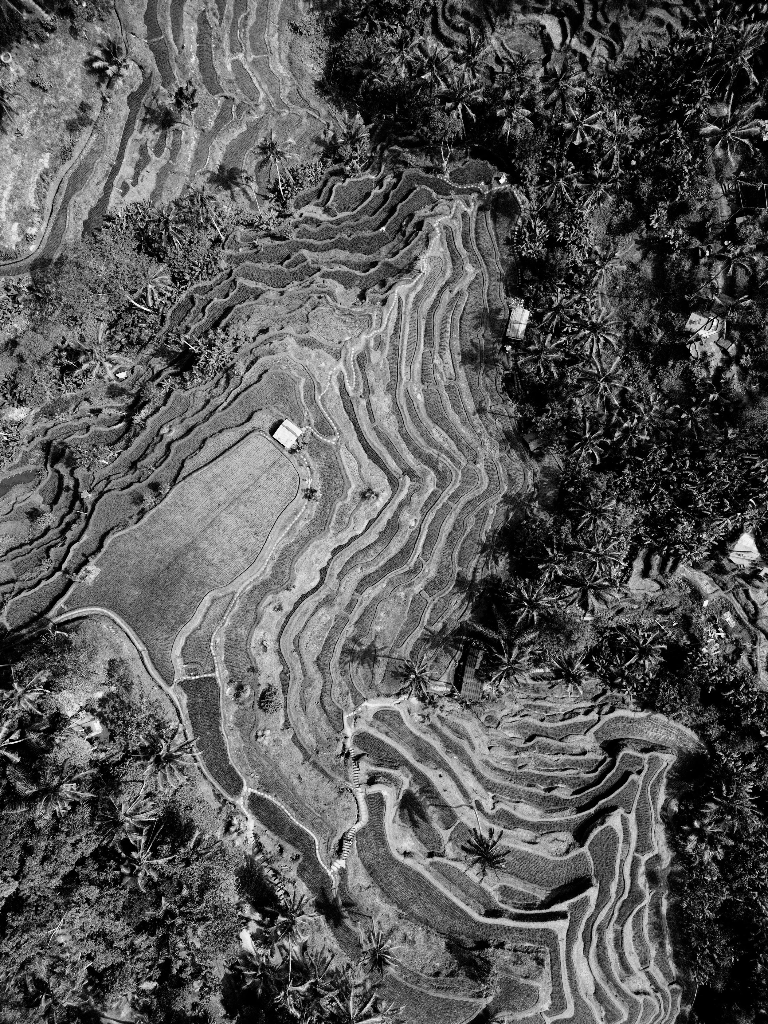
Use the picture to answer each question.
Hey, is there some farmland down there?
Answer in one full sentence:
Yes, some farmland is visible.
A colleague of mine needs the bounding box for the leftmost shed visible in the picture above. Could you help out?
[273,419,303,448]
